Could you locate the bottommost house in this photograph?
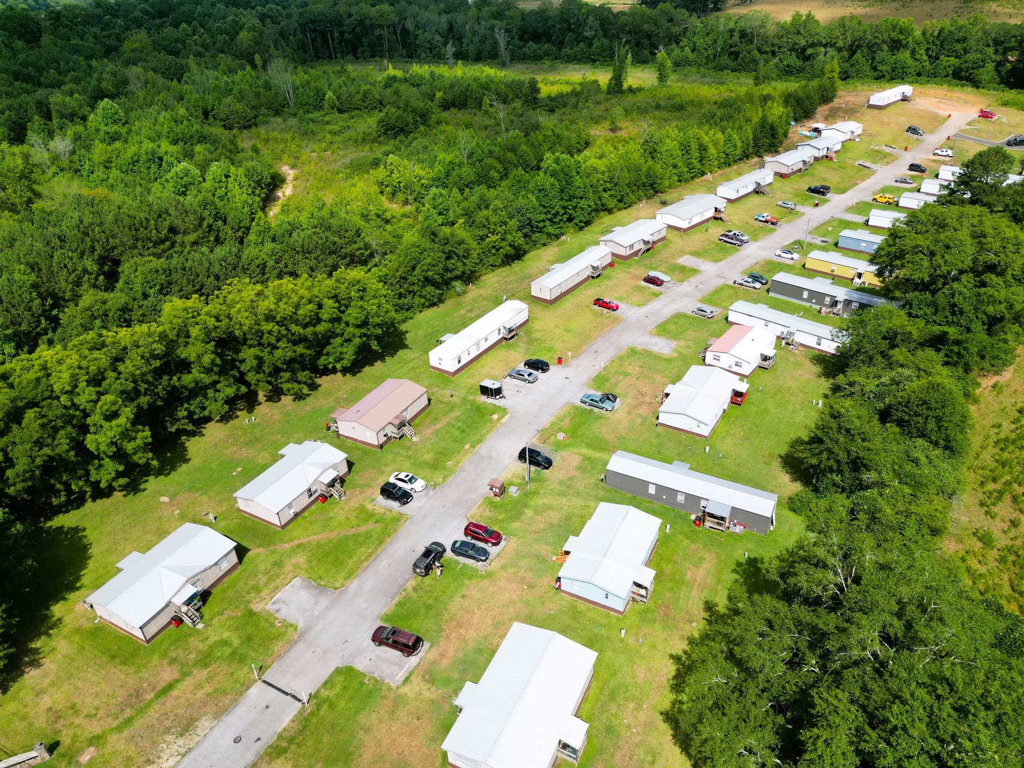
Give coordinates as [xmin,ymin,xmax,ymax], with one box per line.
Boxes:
[440,606,605,768]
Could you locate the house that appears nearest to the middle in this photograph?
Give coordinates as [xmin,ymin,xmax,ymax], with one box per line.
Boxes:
[426,298,530,377]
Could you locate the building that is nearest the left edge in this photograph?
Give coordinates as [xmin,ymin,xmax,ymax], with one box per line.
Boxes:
[90,523,240,645]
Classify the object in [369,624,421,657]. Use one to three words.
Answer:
car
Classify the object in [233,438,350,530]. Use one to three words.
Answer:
house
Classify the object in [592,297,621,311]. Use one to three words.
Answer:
vehicle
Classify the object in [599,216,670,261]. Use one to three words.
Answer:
house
